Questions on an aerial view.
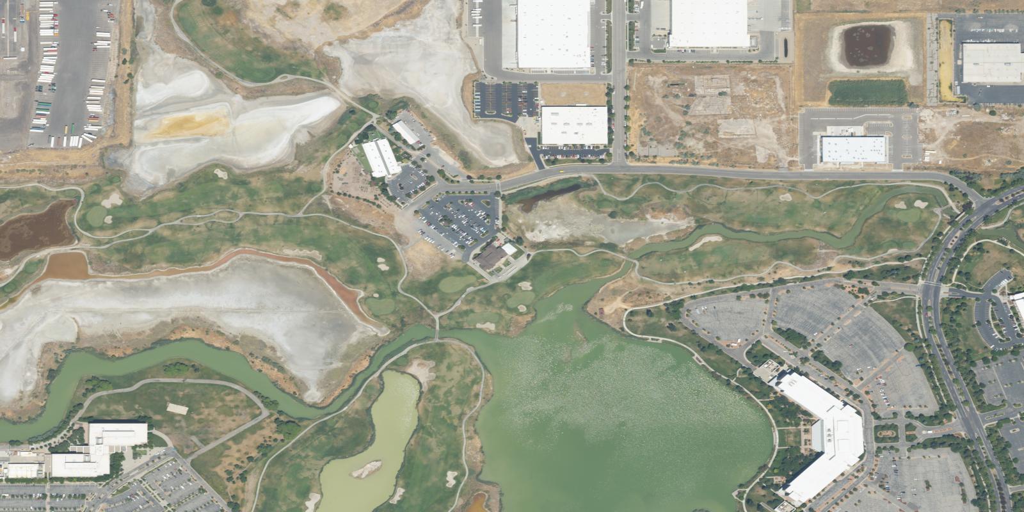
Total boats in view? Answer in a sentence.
The picture shows no boats.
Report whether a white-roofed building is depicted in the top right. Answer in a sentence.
Yes, I can see a white-roofed building in the top right.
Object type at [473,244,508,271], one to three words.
building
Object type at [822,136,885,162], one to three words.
building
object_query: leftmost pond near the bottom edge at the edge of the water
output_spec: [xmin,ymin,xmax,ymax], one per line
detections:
[319,369,420,512]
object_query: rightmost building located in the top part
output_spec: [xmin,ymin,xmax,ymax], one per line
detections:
[963,43,1024,82]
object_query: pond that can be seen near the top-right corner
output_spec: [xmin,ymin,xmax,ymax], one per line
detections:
[844,25,890,66]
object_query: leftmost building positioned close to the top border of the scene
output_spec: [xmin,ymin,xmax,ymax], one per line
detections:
[518,0,590,68]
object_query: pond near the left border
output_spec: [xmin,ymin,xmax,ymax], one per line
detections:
[0,200,77,261]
